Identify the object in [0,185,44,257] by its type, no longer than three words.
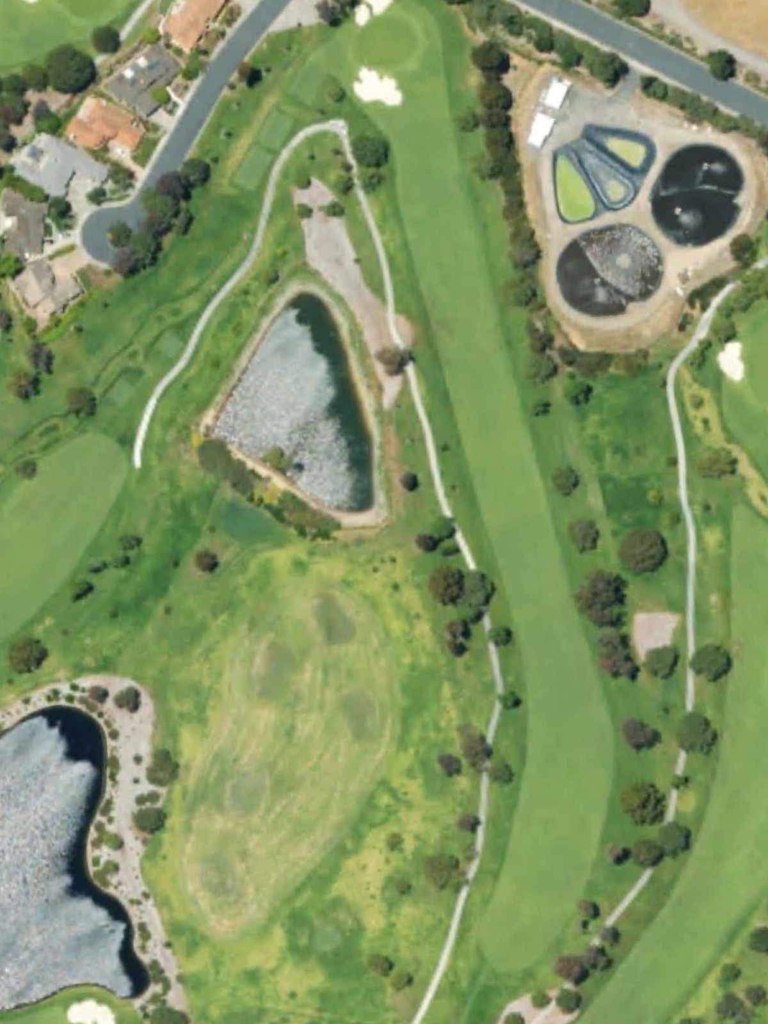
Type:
house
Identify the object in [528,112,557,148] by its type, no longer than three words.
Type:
shed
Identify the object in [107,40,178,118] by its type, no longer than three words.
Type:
house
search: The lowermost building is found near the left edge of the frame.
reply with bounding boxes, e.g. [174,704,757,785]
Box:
[6,255,88,320]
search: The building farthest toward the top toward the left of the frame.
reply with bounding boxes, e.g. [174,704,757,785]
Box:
[163,0,223,51]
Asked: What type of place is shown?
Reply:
golf course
